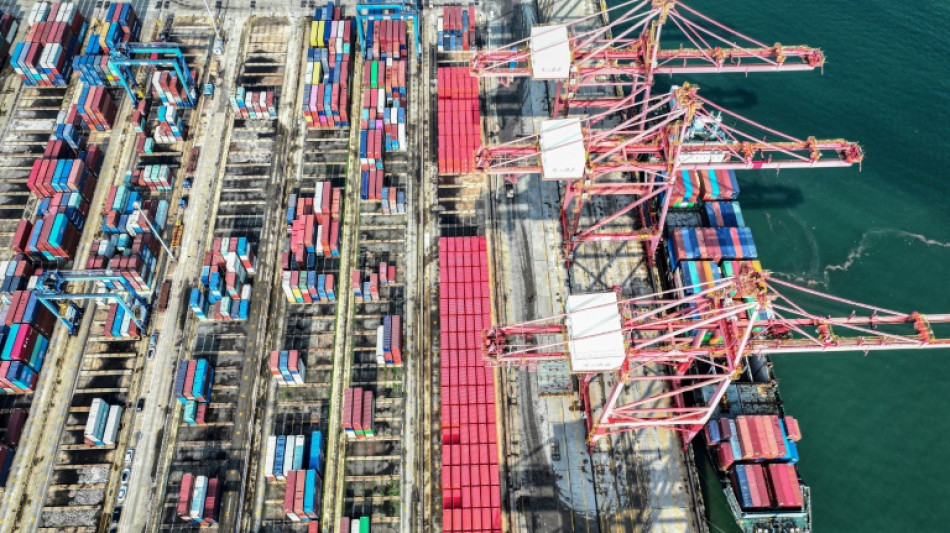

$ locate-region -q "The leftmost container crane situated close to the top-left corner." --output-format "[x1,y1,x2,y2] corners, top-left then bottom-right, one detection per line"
[107,43,198,110]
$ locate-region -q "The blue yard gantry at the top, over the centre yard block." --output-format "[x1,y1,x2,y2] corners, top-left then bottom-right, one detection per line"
[354,0,419,65]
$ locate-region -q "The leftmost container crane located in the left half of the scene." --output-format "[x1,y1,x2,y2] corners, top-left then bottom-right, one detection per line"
[31,270,151,339]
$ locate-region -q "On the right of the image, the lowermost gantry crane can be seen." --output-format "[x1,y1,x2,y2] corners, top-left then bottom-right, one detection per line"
[486,271,950,449]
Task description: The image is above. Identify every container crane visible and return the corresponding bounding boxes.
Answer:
[354,0,419,65]
[476,77,873,264]
[107,43,198,110]
[470,0,832,169]
[31,270,151,339]
[486,271,950,449]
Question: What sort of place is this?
port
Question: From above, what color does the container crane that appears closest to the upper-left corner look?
blue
